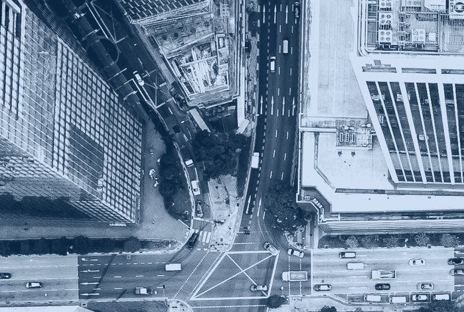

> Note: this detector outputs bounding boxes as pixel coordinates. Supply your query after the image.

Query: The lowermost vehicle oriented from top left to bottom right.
[265,243,279,256]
